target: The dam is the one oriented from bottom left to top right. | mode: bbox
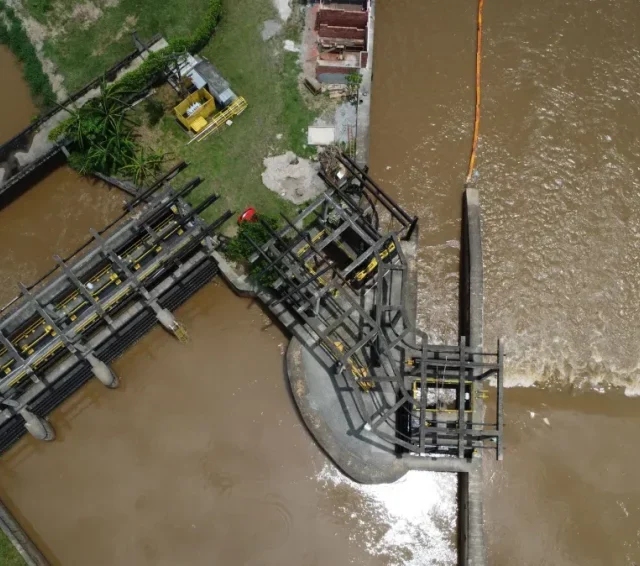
[0,160,233,449]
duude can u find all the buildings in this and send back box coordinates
[192,57,243,118]
[316,0,368,77]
